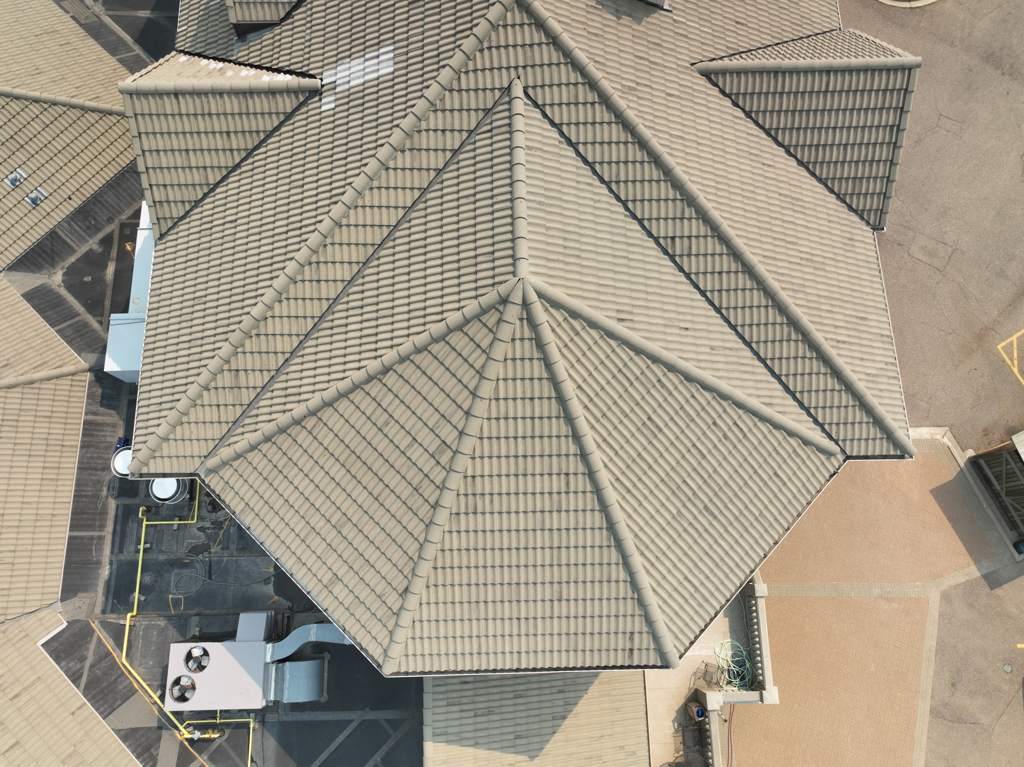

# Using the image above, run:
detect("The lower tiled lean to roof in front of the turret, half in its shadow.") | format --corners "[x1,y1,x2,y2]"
[424,670,654,767]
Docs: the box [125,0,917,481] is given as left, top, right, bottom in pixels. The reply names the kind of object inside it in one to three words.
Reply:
building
